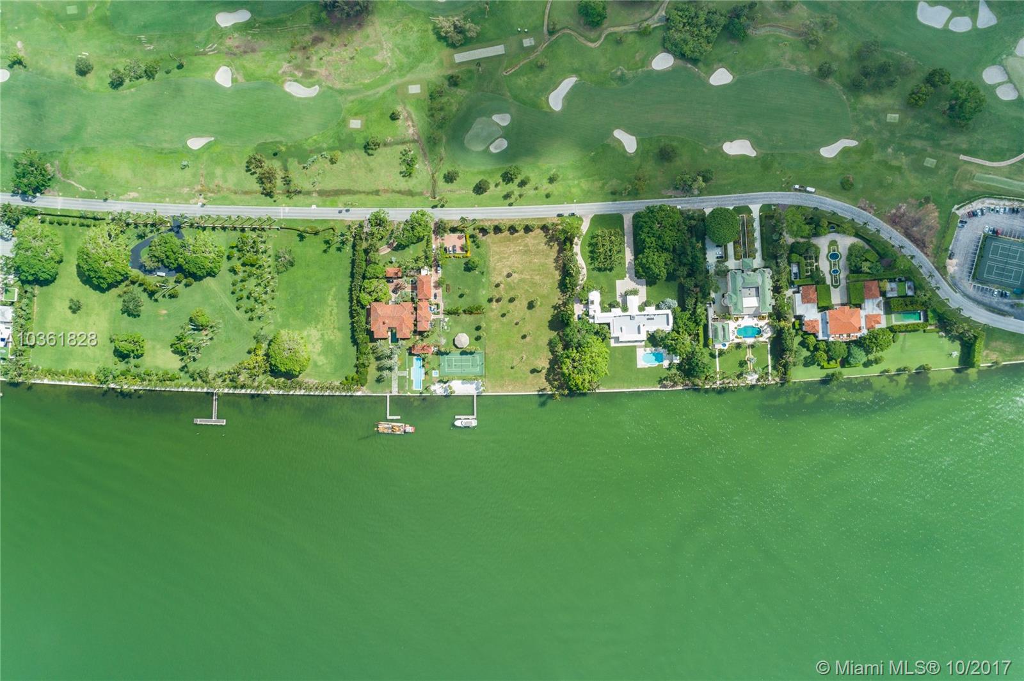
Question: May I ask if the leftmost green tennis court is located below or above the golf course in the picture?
below it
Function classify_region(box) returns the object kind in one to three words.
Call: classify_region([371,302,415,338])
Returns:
house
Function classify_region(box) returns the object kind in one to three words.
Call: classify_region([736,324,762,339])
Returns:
swimming pool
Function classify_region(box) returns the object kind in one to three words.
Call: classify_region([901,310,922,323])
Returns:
swimming pool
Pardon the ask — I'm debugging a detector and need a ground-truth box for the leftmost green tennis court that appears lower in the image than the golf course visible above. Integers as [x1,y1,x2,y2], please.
[440,352,484,376]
